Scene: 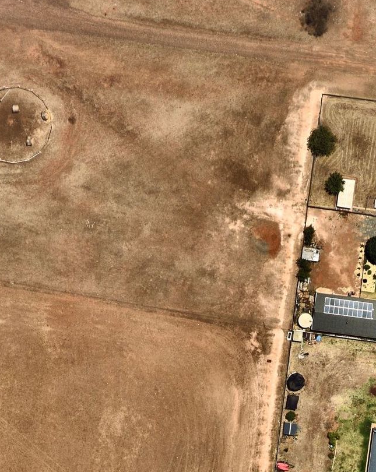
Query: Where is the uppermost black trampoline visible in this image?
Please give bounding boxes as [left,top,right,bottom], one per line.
[287,374,305,391]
